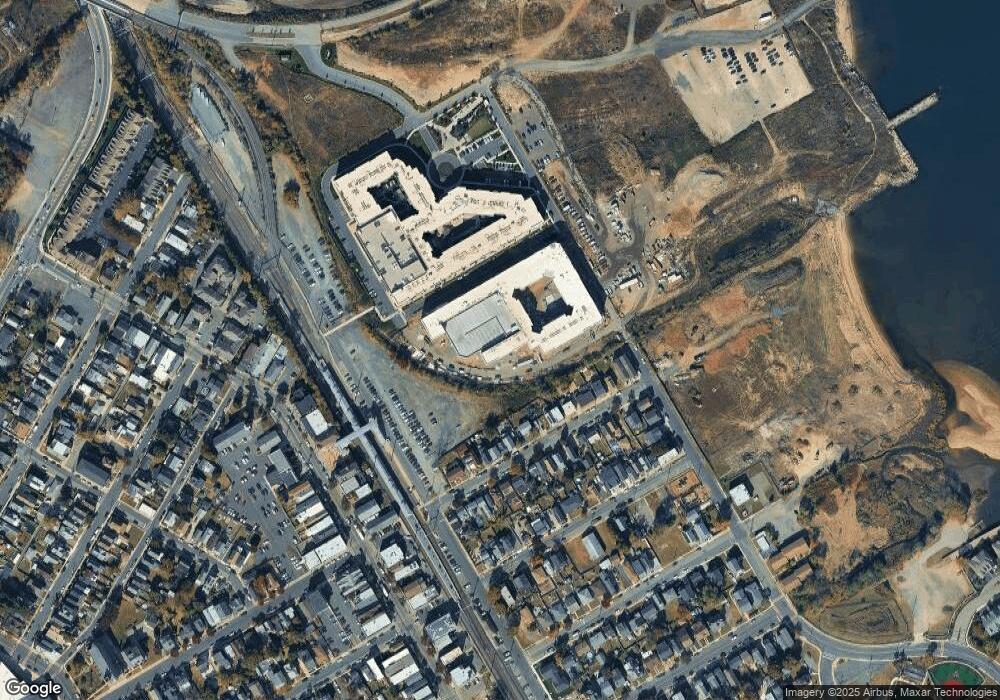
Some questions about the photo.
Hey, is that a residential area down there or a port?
residential area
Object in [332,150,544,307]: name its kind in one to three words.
building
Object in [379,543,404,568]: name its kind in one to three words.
building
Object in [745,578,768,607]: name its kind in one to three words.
house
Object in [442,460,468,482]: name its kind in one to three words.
house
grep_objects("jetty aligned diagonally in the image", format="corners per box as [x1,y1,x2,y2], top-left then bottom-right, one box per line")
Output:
[882,94,939,131]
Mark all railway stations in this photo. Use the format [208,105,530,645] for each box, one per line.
[293,324,463,607]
